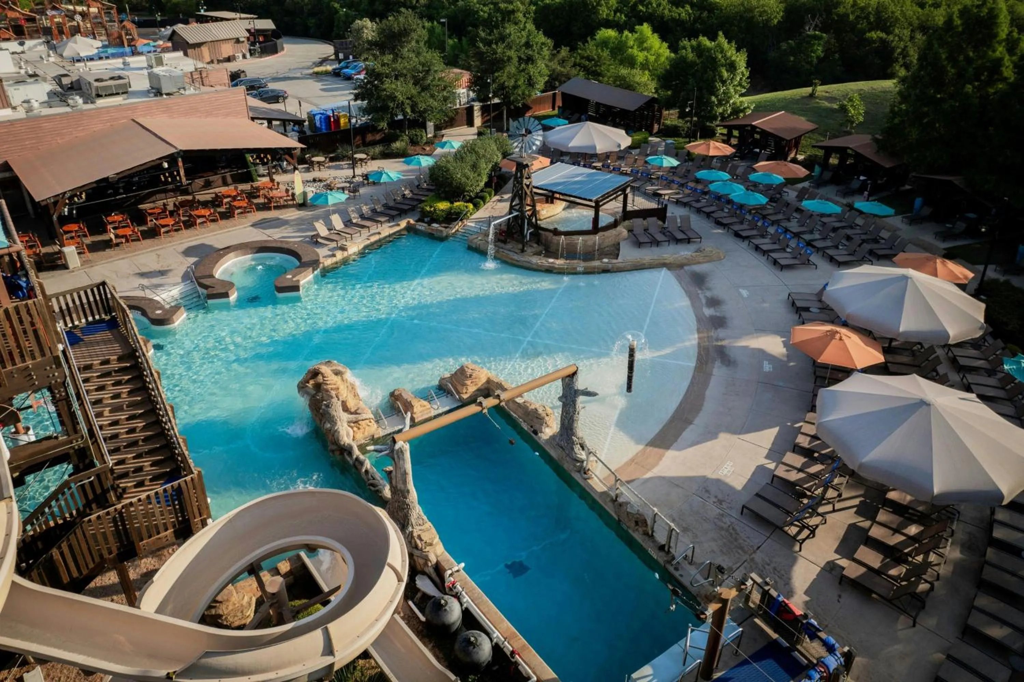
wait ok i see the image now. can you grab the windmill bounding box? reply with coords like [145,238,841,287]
[507,115,547,249]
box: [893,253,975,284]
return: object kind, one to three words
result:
umbrella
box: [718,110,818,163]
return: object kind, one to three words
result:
gazebo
